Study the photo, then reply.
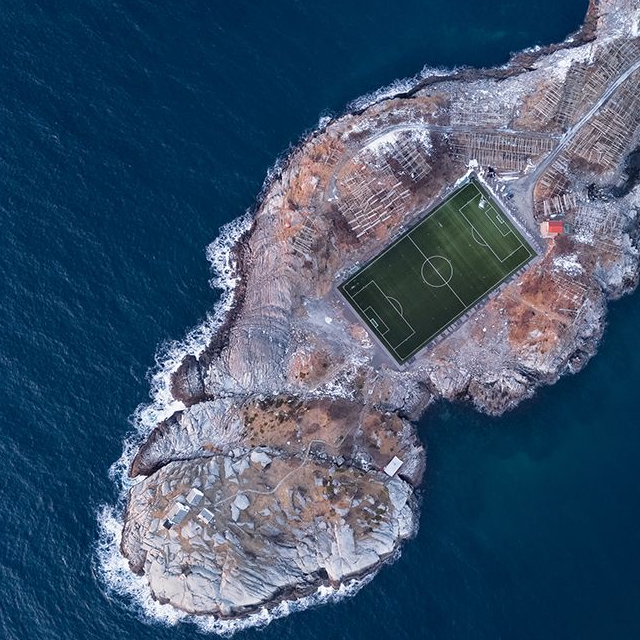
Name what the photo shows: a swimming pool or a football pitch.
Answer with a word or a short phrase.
football pitch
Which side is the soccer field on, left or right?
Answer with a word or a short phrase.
right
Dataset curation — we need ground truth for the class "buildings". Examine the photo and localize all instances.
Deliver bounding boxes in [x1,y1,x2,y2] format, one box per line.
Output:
[548,222,564,234]
[383,455,403,475]
[198,507,215,524]
[186,487,206,507]
[166,501,190,526]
